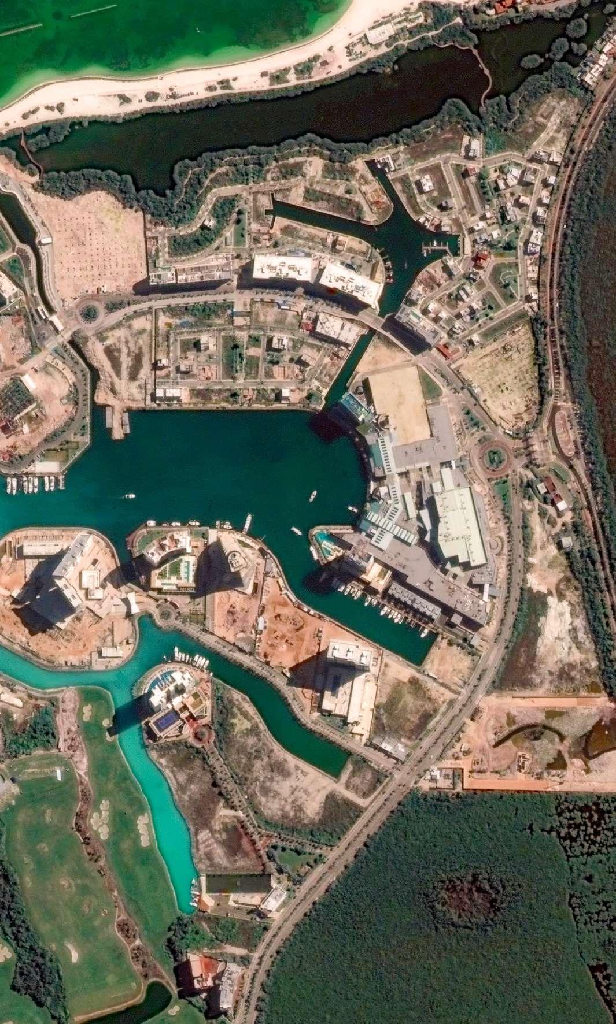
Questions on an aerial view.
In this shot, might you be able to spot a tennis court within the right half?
No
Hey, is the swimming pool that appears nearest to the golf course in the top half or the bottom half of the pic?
bottom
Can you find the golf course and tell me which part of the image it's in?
bottom left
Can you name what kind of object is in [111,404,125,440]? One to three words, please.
pier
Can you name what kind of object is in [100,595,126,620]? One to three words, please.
building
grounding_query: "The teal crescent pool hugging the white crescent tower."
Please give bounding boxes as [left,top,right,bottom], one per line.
[143,667,188,695]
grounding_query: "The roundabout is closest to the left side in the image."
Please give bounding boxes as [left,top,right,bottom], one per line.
[74,298,105,329]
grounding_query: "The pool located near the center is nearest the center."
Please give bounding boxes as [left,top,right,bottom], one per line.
[311,526,350,564]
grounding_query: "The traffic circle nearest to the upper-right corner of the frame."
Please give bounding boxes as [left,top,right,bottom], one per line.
[472,436,516,480]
